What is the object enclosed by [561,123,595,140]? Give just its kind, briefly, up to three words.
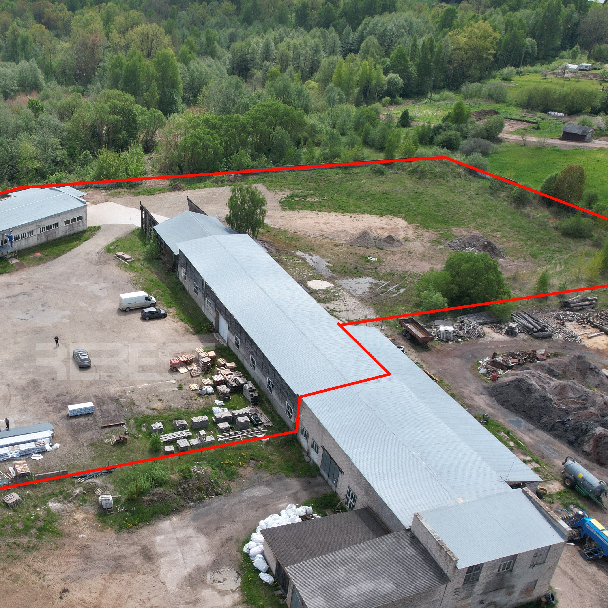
shed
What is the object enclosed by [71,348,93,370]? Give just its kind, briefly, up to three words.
car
